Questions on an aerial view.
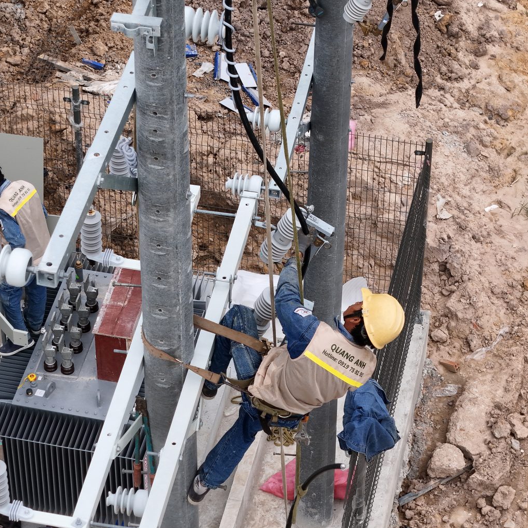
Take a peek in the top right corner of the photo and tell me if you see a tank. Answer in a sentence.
No, no tank appears in the top right corner of the photo.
